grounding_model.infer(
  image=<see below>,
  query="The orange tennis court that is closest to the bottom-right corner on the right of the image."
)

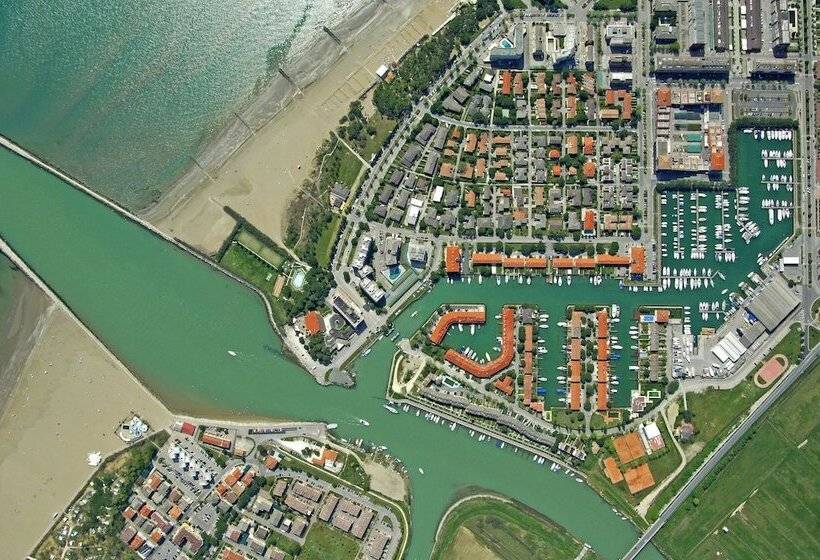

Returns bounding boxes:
[625,465,655,493]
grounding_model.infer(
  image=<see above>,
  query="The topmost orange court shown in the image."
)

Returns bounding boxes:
[614,433,645,462]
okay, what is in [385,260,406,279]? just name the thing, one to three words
swimming pool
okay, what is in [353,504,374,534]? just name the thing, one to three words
house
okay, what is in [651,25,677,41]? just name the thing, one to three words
building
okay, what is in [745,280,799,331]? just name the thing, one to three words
shed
